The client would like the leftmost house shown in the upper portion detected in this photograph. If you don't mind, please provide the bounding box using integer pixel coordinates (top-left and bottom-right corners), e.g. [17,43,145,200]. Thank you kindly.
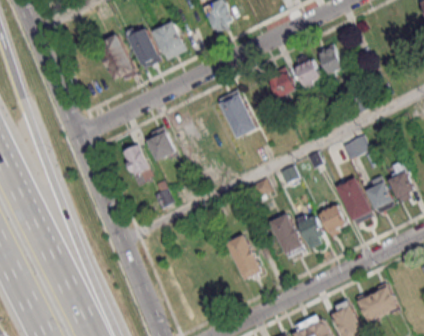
[104,36,136,84]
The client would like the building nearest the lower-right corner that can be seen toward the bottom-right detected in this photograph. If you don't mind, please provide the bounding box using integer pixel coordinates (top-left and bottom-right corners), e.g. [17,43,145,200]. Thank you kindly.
[356,282,400,320]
